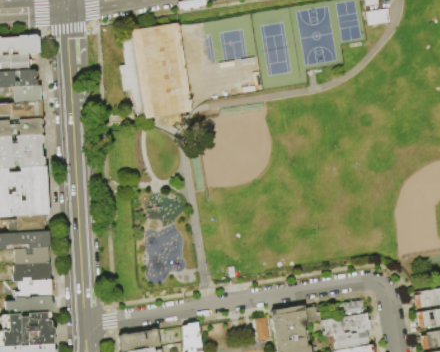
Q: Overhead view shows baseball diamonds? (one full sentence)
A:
Yes, there's a baseball diamond here.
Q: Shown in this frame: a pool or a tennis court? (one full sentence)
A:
I can see a tennis court in this picture.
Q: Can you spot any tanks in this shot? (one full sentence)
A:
No, there appears to be no tank in this shot.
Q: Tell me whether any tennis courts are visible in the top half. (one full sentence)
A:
Yes, I can see a tennis court in the top half.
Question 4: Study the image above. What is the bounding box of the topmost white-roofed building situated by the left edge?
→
[0,33,40,54]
